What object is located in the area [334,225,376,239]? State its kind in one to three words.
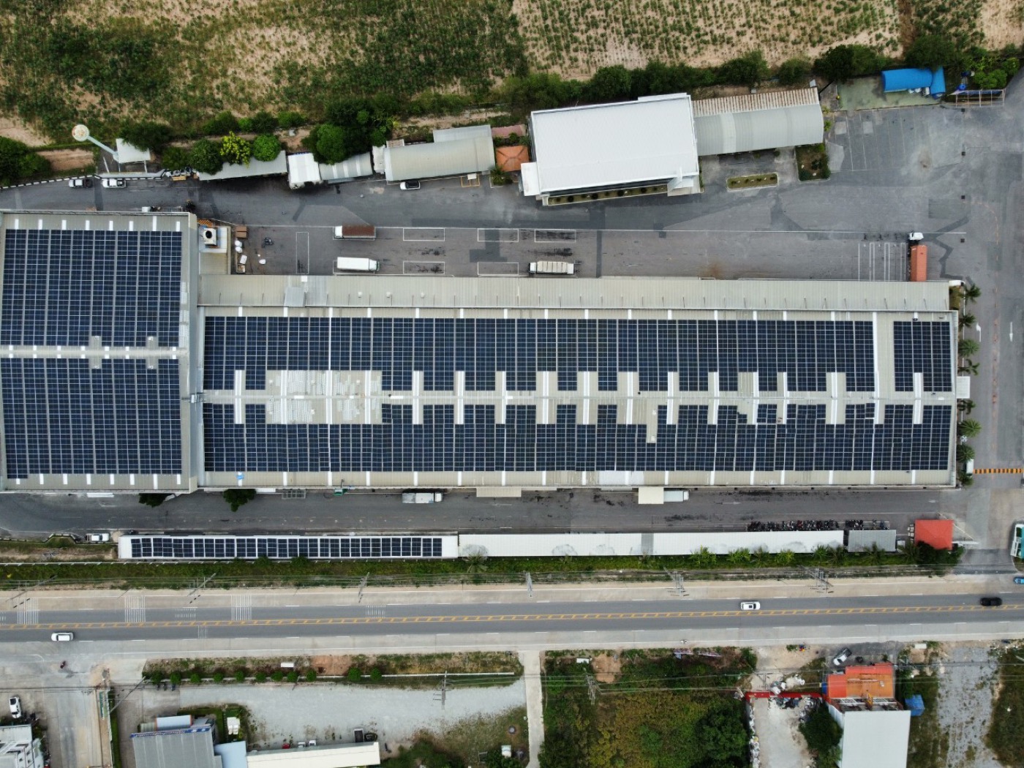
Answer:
vehicle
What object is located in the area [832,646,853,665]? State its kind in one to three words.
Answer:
car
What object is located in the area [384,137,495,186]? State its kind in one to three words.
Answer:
shed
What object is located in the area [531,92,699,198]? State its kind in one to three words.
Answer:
building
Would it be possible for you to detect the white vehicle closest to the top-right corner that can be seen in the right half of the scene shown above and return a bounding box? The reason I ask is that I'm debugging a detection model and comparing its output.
[905,232,924,256]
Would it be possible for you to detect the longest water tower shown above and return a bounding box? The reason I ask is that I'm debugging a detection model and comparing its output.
[67,124,119,161]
